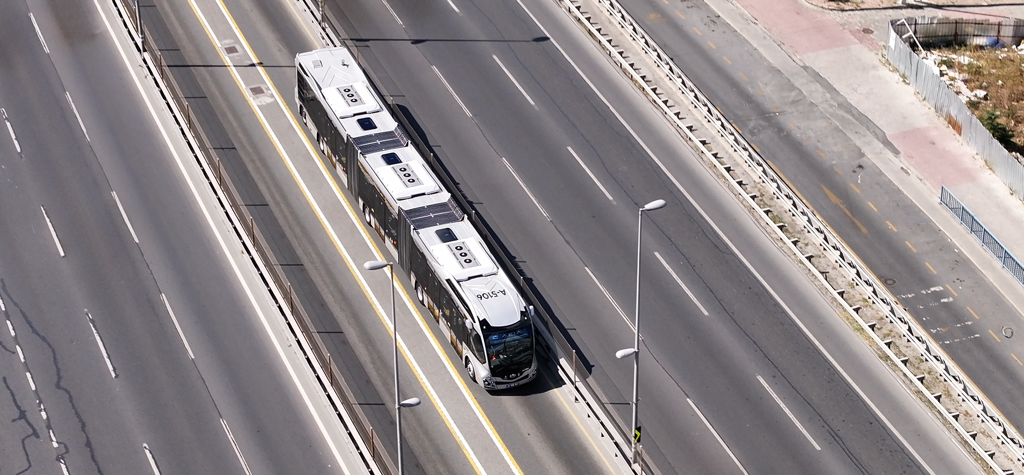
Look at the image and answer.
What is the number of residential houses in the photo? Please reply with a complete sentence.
No residential houses are visible.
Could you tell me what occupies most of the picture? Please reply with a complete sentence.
For the most part, this view shows paved ground.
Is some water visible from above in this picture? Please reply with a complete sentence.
No, the scene doesn't show any water.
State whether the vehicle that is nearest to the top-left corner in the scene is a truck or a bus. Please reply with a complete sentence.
The vehicle that is nearest to the top-left corner is a bus.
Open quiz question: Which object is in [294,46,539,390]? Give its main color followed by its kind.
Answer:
white bus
